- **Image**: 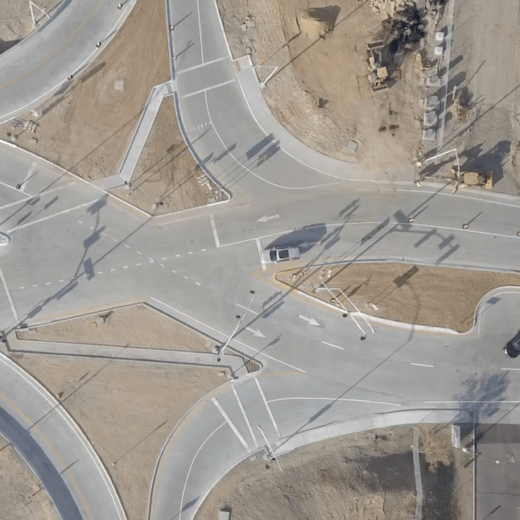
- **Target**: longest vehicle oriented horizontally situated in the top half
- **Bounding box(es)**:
[419,165,499,194]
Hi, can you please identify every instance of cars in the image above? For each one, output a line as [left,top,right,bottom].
[259,246,299,265]
[501,331,520,359]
